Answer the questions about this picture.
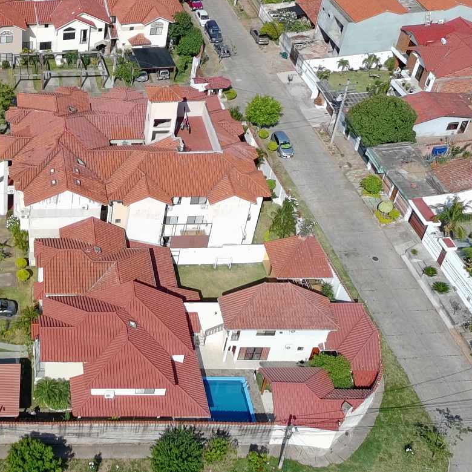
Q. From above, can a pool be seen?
Yes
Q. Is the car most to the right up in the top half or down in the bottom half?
top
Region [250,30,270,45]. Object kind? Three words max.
car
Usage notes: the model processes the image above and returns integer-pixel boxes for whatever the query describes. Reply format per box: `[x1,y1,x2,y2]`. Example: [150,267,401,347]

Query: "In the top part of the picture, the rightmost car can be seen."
[268,130,295,158]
